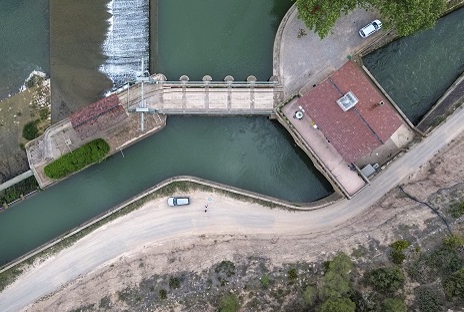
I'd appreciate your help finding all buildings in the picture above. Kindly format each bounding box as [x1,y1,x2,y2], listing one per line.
[298,61,404,162]
[70,93,128,140]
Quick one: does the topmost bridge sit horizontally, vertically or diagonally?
horizontally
